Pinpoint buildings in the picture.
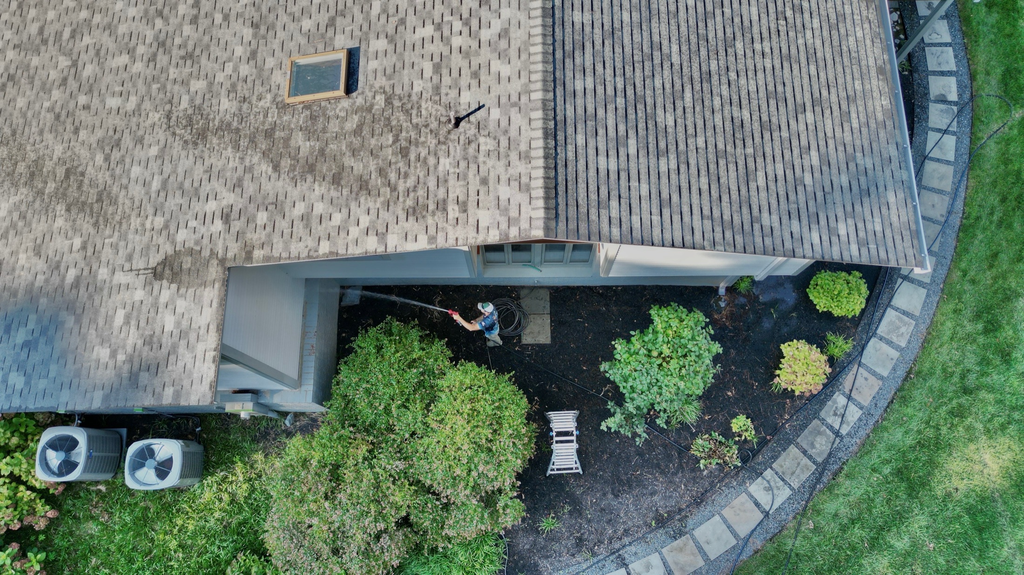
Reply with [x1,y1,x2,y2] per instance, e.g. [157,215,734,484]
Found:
[0,0,938,415]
